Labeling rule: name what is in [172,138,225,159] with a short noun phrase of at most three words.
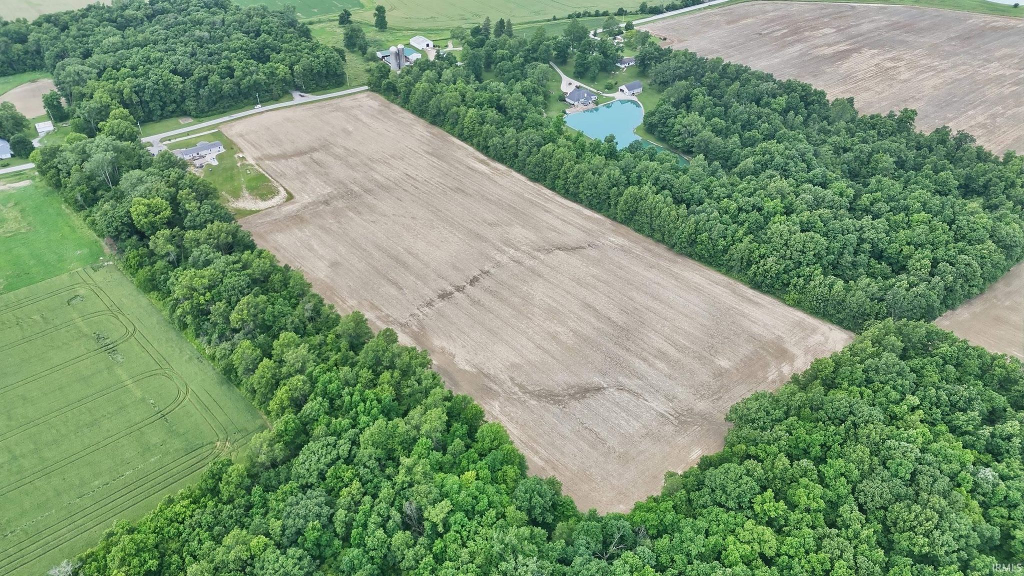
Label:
house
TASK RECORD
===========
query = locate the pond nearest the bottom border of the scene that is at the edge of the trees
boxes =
[564,99,676,158]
